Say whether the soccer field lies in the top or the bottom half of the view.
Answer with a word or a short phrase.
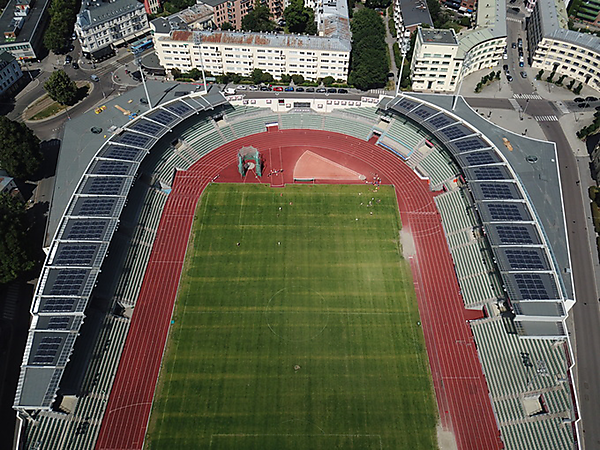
bottom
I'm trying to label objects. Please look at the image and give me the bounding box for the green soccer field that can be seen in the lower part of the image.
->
[145,184,444,450]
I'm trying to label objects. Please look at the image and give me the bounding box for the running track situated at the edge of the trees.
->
[98,128,502,450]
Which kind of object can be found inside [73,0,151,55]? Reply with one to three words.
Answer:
building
